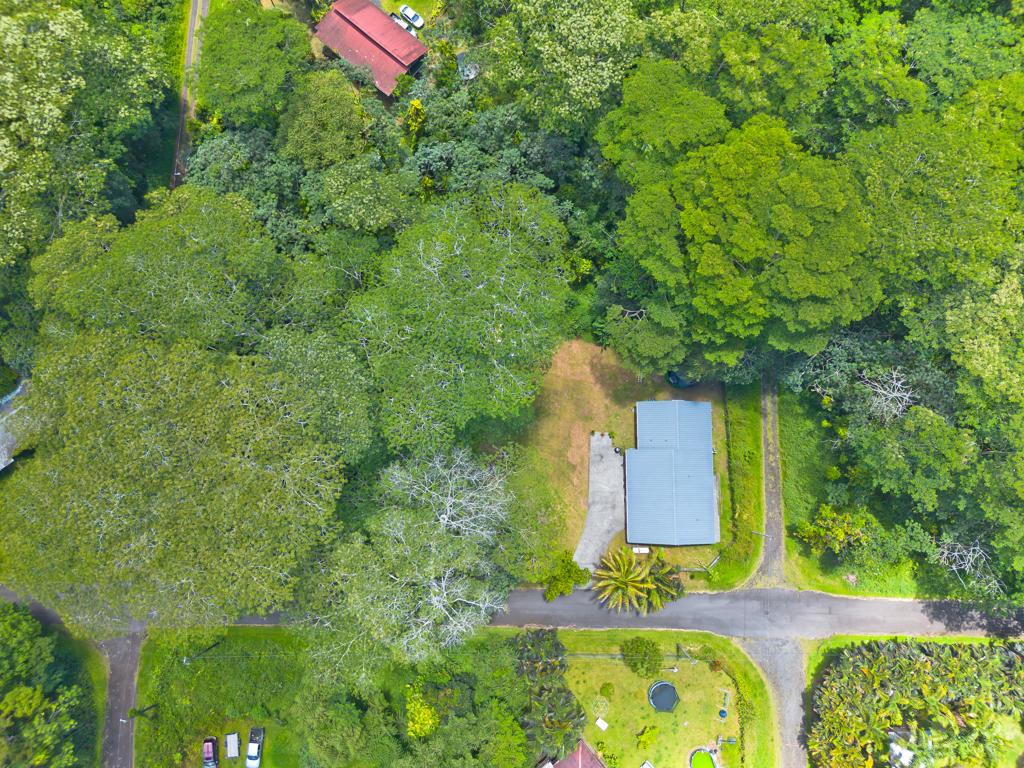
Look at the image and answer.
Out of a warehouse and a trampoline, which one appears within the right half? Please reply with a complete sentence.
The feature located within the right half is a trampoline.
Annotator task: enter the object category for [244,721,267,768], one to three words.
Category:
truck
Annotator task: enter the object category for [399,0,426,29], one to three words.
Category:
car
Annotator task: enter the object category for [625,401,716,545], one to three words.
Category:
house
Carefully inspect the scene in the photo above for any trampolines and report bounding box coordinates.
[650,681,684,721]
